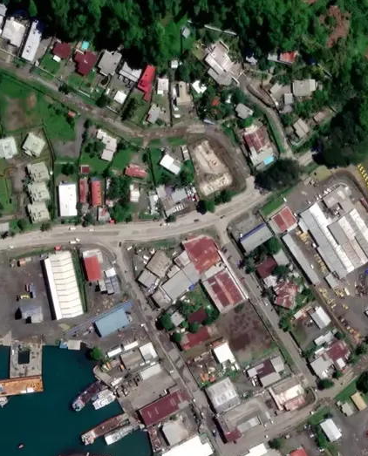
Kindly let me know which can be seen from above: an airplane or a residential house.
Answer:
residential house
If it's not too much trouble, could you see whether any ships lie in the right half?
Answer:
No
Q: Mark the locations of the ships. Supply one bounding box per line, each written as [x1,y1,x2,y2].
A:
[80,415,128,443]
[0,376,43,396]
[93,390,113,403]
[92,396,114,411]
[72,383,108,409]
[103,425,132,445]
